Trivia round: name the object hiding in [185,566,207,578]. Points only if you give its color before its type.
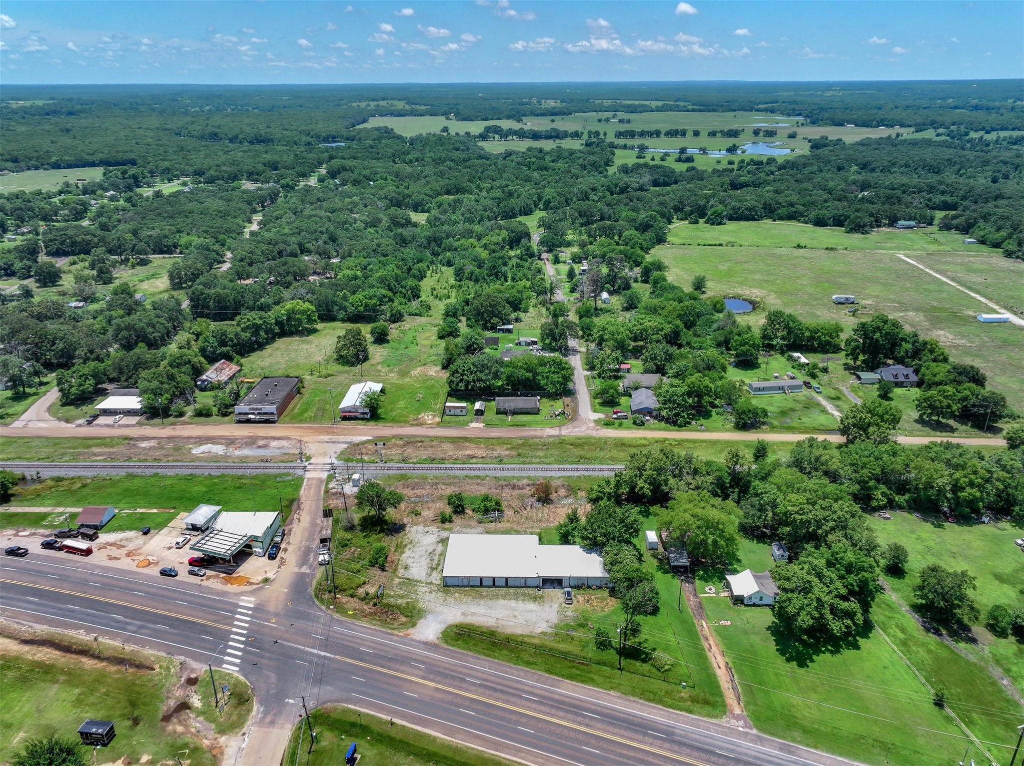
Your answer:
gray vehicle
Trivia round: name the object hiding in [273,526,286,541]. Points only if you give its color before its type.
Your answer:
gray vehicle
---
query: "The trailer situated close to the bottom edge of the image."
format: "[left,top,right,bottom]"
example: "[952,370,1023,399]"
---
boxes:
[77,719,115,746]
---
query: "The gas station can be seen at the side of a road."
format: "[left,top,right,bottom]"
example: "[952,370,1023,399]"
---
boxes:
[189,497,281,569]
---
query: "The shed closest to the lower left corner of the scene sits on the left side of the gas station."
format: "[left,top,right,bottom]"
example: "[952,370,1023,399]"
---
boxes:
[75,507,115,532]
